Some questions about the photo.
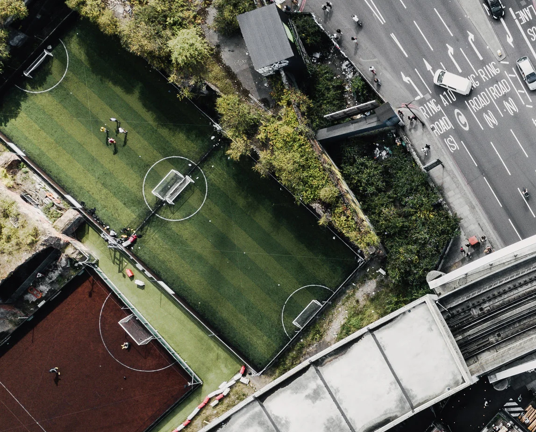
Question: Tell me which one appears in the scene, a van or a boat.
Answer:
van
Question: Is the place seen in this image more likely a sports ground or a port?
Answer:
sports ground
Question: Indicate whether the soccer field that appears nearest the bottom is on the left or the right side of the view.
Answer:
left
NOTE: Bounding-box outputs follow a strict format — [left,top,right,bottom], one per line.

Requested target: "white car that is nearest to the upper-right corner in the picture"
[515,52,536,95]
